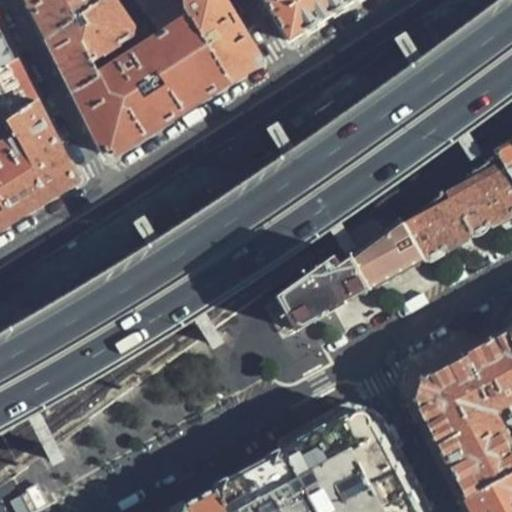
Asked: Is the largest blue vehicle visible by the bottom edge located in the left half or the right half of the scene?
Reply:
left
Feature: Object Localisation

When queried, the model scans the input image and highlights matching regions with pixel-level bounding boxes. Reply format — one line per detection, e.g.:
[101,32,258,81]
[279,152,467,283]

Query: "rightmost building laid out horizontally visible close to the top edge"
[266,0,362,42]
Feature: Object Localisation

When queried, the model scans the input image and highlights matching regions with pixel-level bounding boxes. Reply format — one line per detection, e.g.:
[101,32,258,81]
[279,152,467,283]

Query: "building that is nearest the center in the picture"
[278,255,366,326]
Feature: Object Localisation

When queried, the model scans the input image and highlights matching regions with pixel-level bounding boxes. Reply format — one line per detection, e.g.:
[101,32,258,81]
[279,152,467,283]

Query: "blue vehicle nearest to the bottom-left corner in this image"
[115,488,146,511]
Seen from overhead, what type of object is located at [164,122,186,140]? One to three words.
vehicle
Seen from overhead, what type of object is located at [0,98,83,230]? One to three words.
house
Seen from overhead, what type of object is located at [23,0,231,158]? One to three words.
building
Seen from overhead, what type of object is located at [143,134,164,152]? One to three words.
car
